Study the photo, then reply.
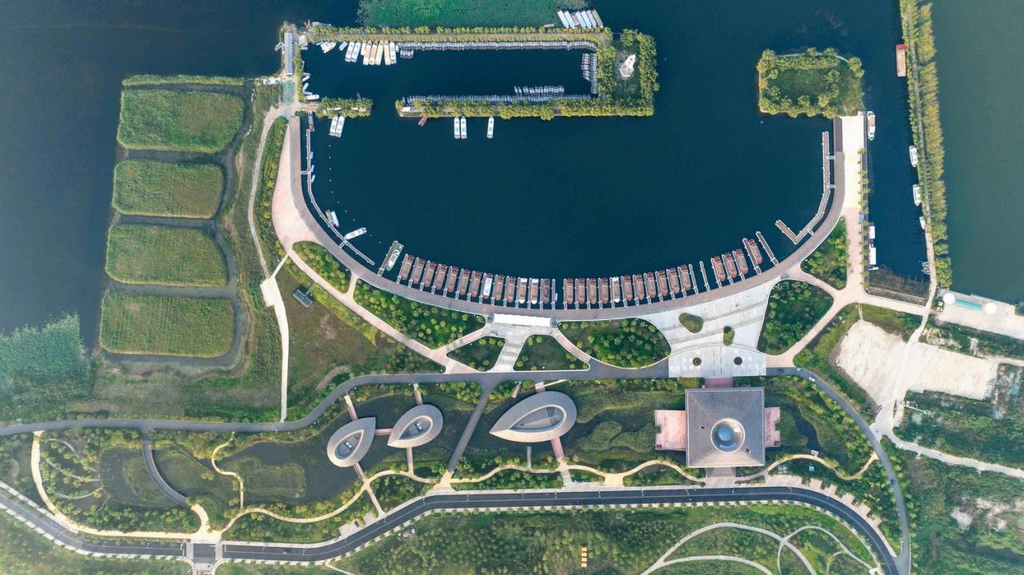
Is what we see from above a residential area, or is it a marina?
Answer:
marina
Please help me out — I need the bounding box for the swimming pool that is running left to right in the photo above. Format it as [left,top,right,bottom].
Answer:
[955,299,983,311]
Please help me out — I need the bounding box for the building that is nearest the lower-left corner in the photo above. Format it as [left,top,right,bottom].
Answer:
[327,417,376,467]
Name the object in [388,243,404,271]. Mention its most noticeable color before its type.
white boat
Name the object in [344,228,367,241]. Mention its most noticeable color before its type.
white boat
